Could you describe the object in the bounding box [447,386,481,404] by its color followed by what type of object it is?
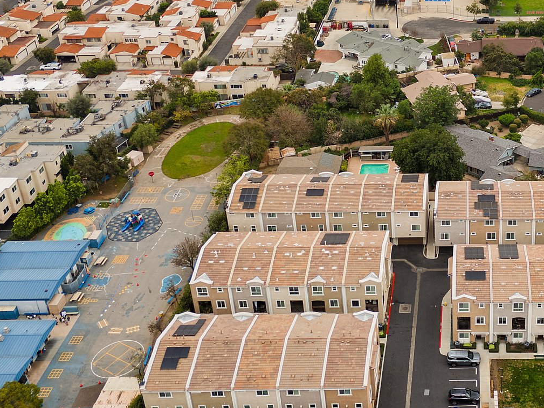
black car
